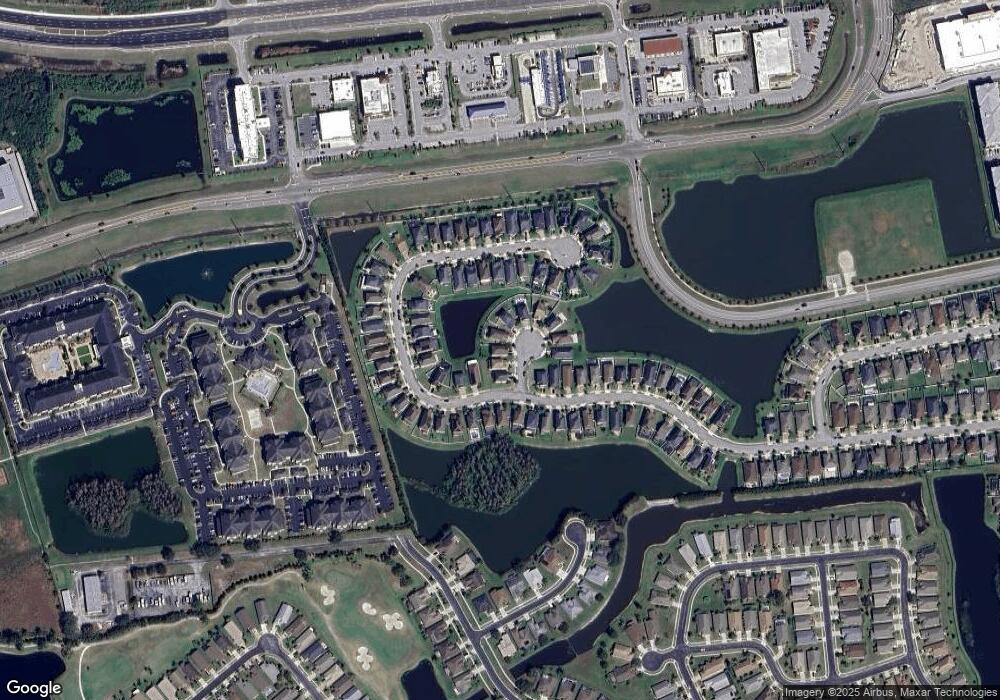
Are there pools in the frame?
Yes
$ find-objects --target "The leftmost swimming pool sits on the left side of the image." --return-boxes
[42,351,62,374]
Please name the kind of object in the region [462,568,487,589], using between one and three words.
house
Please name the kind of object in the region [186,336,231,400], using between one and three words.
building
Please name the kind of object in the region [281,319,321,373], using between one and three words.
building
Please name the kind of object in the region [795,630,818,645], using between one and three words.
house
